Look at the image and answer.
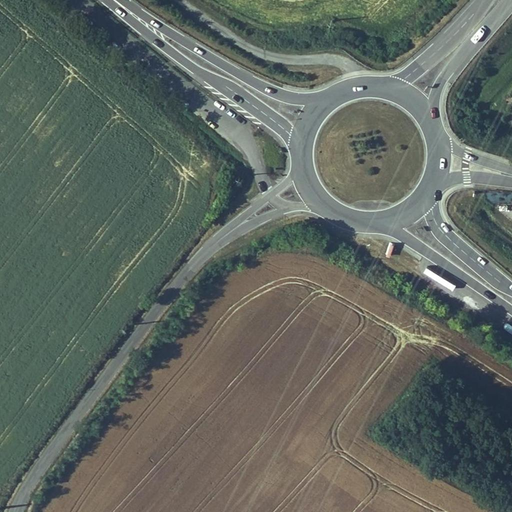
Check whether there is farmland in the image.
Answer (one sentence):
Yes, farmland can be seen from above here.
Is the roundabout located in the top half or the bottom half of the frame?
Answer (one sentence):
It is in the top half that the roundabout appears.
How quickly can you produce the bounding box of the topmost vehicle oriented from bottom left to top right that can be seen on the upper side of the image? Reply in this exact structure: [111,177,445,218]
[470,26,486,44]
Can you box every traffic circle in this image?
[288,74,453,234]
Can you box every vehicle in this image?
[208,120,219,130]
[431,107,437,119]
[152,38,164,48]
[235,114,248,126]
[226,108,238,118]
[232,94,244,104]
[476,256,488,266]
[264,87,276,94]
[351,86,363,91]
[260,180,268,193]
[440,221,450,233]
[150,19,162,29]
[435,190,441,202]
[464,153,476,160]
[114,6,127,18]
[470,26,486,44]
[484,289,496,299]
[213,100,226,110]
[193,46,206,56]
[440,157,446,170]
